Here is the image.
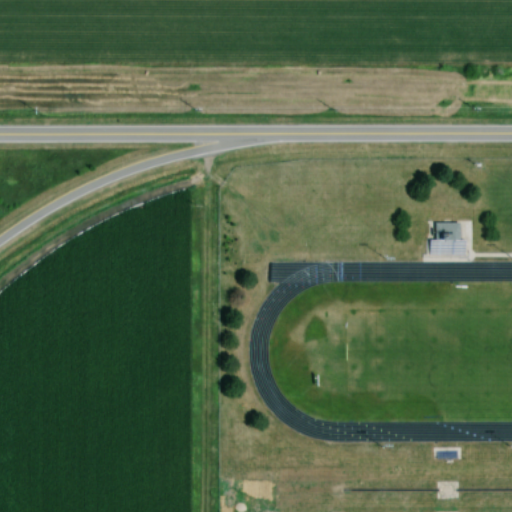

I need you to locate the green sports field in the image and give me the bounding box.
[270,281,512,422]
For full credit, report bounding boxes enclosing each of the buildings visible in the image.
[435,222,460,240]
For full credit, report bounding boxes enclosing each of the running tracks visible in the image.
[250,262,512,441]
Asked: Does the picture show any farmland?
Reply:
Yes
